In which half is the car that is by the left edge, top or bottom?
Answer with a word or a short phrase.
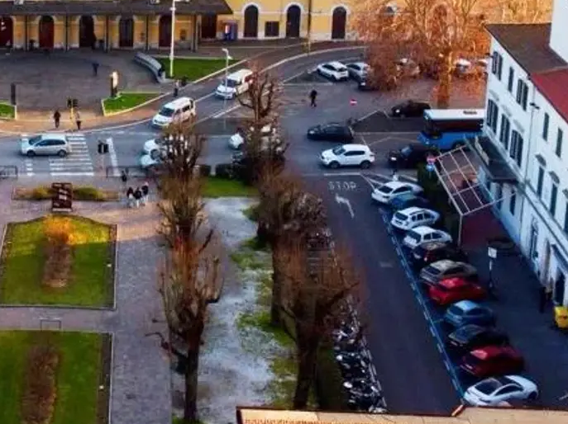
top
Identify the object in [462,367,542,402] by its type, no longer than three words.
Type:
car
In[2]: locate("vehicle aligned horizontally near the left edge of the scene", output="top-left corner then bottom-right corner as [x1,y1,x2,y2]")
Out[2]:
[19,128,73,153]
